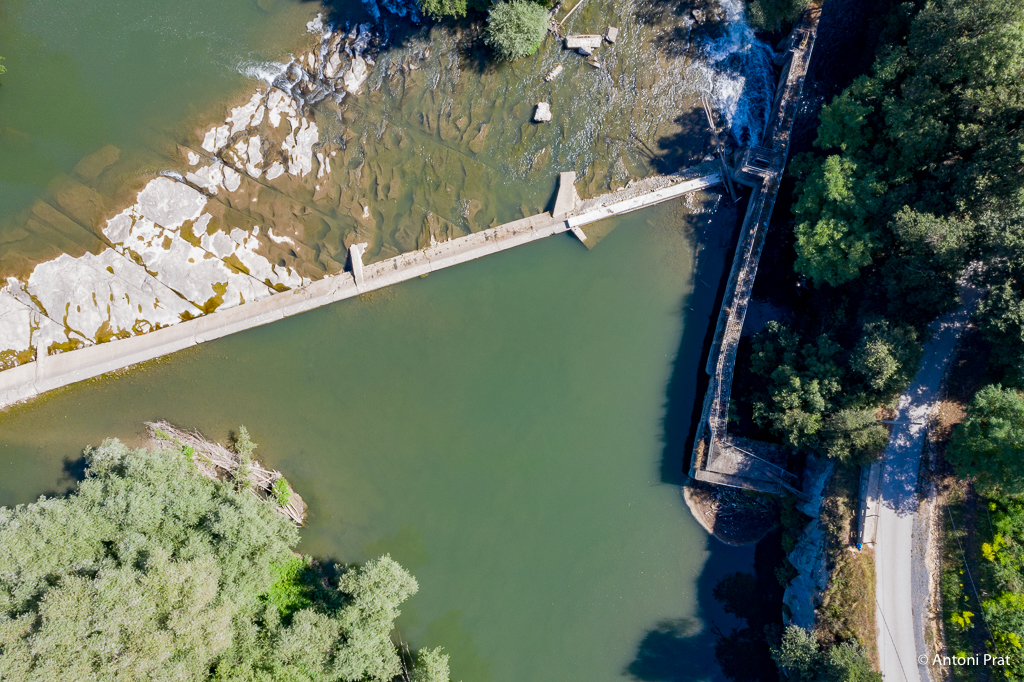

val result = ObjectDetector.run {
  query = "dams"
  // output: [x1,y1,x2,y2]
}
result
[0,171,722,410]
